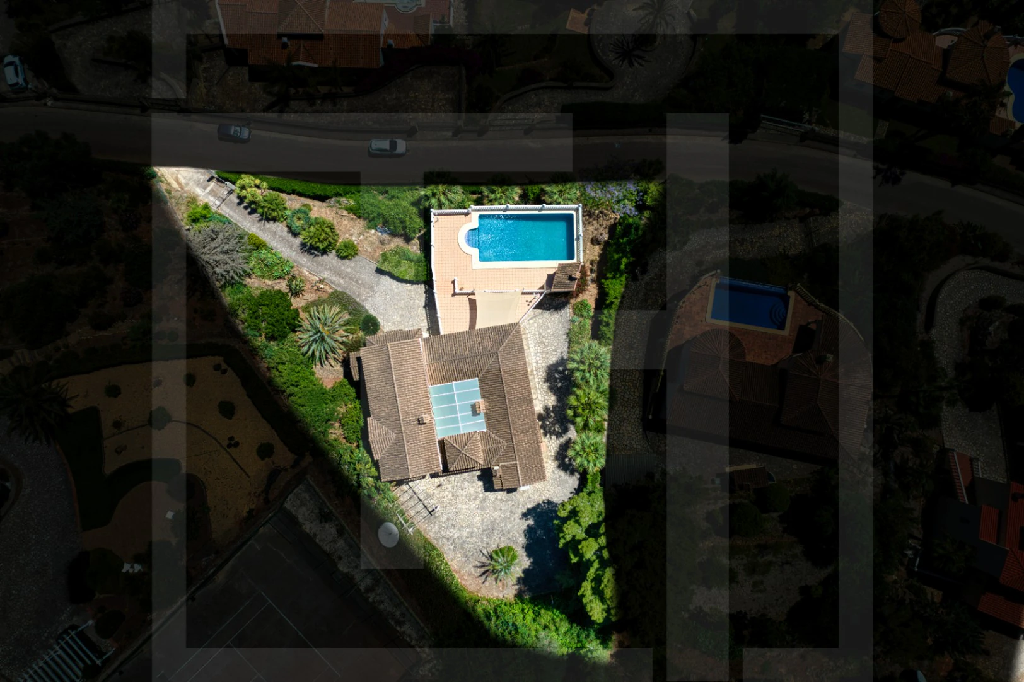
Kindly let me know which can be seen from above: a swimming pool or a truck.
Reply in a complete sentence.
Of the two, only a swimming pool appears.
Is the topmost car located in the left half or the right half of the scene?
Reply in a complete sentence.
The topmost car is on the left side of the image.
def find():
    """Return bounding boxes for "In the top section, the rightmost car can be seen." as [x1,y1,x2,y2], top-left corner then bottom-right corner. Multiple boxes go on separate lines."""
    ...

[366,135,405,156]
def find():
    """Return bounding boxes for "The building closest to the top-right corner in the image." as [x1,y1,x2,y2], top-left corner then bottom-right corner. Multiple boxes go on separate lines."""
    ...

[825,0,1015,138]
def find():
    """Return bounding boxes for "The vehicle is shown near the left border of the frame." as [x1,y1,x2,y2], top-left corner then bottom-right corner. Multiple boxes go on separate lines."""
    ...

[0,51,25,91]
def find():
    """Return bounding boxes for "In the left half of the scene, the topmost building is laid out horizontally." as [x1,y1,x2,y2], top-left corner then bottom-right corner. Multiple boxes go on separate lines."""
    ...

[218,0,433,84]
